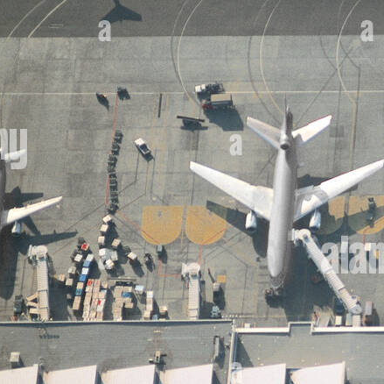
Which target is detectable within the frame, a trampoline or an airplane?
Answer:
airplane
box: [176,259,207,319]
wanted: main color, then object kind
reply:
white jet bridge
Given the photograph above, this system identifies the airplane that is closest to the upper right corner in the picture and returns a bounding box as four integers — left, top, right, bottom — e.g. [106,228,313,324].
[191,83,379,290]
